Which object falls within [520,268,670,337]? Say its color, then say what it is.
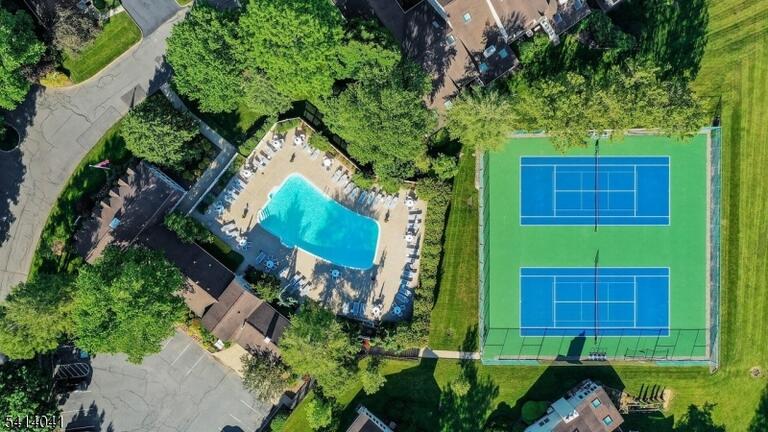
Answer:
blue tennis court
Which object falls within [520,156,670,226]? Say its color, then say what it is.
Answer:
blue tennis court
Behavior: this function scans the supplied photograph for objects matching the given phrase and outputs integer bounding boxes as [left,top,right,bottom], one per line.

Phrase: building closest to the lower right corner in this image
[526,382,625,432]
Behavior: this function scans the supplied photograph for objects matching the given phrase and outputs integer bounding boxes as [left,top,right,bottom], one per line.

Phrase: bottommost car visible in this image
[58,375,90,391]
